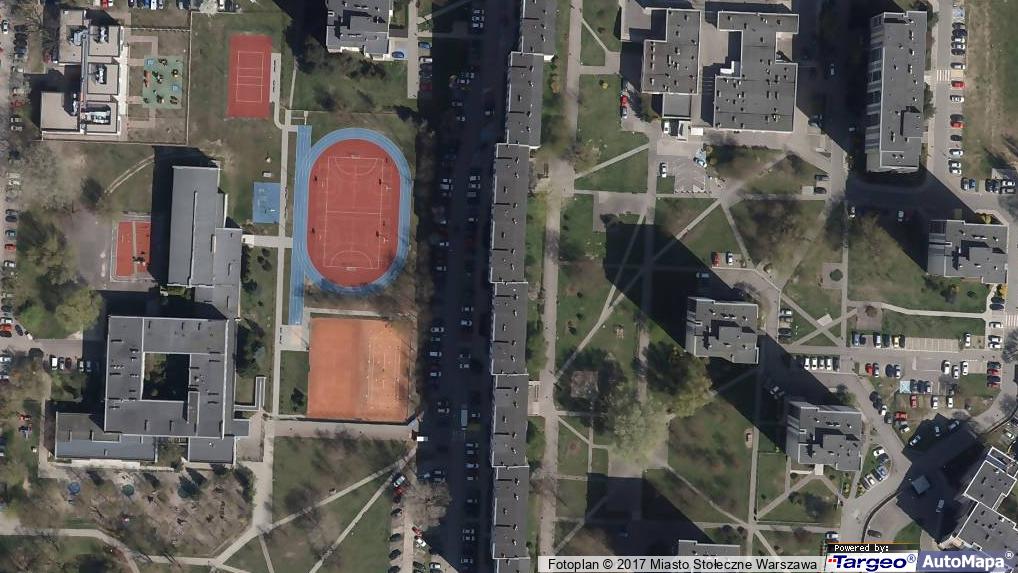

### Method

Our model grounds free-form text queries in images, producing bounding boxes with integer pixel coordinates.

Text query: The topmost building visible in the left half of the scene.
[327,0,392,59]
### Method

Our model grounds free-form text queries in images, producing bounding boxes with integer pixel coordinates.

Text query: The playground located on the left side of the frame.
[142,56,183,108]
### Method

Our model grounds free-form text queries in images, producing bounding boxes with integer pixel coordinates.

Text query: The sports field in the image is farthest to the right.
[306,139,401,286]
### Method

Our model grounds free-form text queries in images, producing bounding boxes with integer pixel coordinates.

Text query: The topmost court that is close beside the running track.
[228,35,271,117]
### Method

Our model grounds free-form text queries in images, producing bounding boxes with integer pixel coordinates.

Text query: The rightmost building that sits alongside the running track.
[486,0,556,573]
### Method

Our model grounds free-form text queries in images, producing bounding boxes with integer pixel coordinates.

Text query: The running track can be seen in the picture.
[289,125,411,325]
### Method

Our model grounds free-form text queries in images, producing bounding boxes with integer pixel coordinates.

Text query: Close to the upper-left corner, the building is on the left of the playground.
[41,10,122,133]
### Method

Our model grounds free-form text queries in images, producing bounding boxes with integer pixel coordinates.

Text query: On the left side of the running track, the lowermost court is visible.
[253,182,280,224]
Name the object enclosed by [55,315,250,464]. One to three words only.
building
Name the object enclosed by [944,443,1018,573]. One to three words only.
house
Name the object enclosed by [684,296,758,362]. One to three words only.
building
